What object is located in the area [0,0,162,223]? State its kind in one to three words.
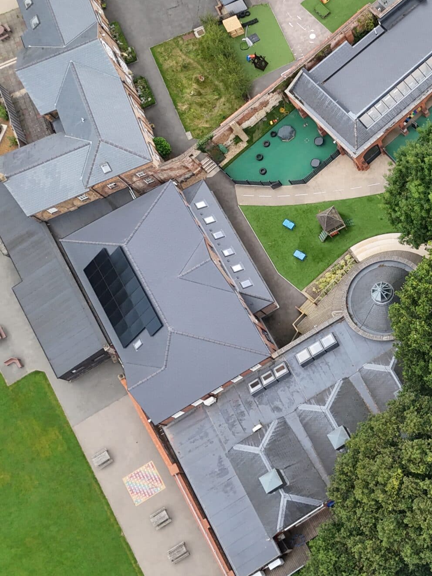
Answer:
building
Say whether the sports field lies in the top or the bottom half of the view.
bottom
